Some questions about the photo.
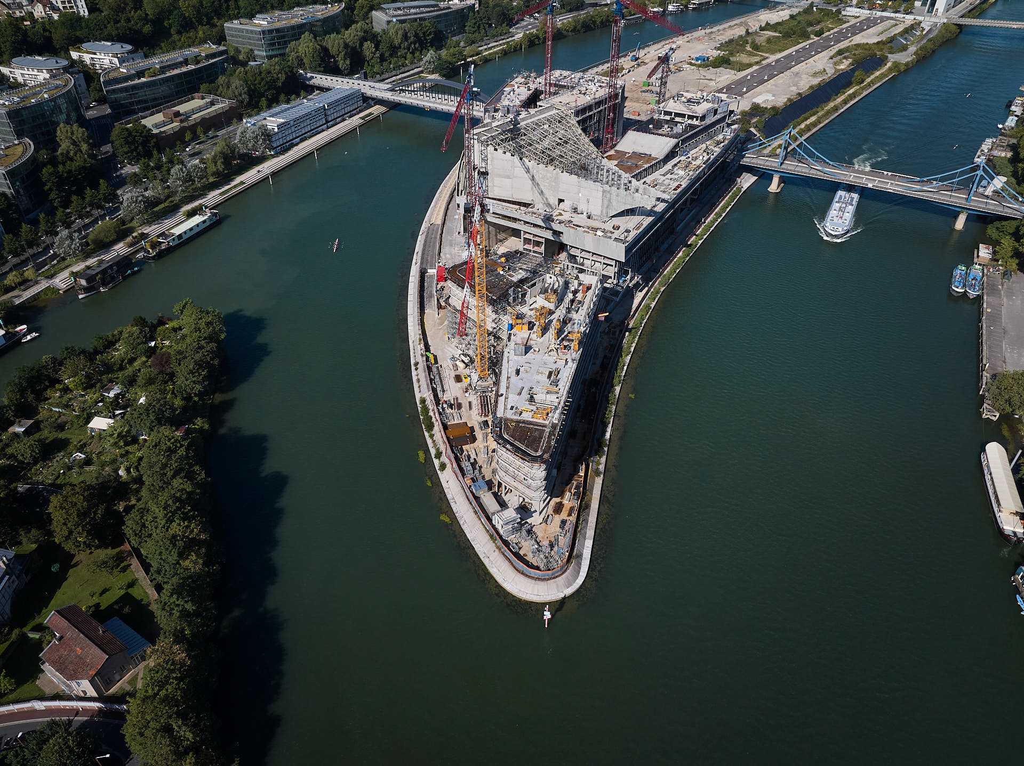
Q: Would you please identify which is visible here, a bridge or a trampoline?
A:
bridge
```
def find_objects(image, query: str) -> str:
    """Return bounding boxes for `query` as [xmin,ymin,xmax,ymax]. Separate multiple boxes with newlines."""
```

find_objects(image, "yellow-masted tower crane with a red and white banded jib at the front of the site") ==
[456,175,496,379]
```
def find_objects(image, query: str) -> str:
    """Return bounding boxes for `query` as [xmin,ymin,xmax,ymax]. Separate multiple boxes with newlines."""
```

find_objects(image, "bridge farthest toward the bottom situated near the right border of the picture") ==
[727,130,1024,227]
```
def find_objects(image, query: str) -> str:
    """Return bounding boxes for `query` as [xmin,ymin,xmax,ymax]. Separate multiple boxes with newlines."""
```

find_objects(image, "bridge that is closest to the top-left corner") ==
[302,73,488,122]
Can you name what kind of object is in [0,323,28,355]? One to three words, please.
boat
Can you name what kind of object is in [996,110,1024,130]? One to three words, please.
vessel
